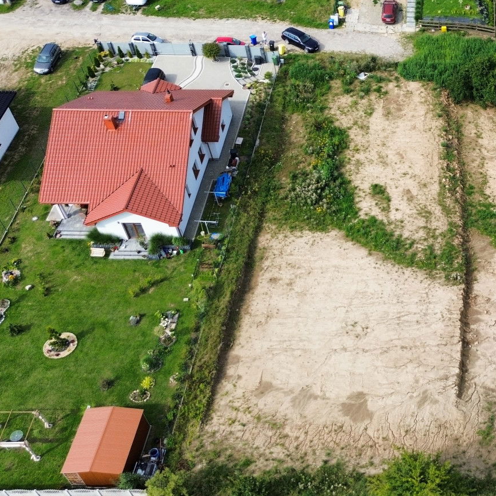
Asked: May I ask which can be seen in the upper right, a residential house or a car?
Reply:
car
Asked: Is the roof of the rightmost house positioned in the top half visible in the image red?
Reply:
Yes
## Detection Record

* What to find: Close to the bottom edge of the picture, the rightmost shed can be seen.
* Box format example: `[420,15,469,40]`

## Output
[58,402,149,487]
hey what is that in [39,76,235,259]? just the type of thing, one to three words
house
